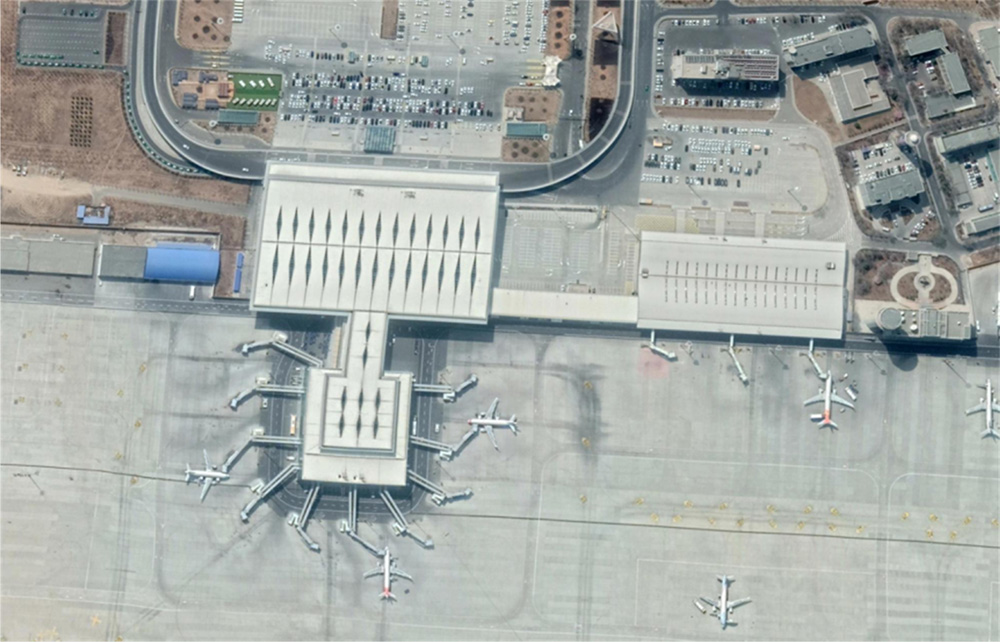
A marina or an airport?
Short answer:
airport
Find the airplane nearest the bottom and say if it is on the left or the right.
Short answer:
right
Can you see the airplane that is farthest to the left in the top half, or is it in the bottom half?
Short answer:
bottom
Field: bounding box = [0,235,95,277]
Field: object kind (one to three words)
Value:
hangar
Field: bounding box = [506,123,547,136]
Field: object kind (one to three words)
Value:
building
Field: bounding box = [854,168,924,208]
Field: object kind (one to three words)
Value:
building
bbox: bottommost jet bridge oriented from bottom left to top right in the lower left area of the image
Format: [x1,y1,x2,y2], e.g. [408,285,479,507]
[238,461,300,523]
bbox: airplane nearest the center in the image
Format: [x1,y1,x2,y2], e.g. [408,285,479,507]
[468,398,521,448]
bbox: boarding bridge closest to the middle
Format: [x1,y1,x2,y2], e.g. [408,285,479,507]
[411,374,479,404]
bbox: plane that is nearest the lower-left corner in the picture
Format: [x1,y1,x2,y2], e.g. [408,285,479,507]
[184,448,230,498]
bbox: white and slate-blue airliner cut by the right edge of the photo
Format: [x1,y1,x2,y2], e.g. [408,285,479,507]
[965,380,1000,437]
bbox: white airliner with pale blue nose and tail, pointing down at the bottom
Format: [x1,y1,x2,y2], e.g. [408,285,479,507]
[699,575,750,630]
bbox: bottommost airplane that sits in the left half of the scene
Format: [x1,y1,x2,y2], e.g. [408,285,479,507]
[362,547,412,600]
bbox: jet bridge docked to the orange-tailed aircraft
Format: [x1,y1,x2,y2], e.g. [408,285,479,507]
[807,338,827,381]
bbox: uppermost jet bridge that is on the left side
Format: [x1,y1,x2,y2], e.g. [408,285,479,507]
[241,331,326,368]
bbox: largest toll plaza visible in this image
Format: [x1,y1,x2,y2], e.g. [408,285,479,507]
[542,55,562,86]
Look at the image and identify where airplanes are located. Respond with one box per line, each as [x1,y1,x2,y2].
[468,398,521,448]
[699,575,750,630]
[184,448,230,498]
[804,371,854,428]
[362,547,412,600]
[965,380,1000,437]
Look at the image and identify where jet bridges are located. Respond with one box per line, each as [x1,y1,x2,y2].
[286,484,322,551]
[648,329,677,360]
[727,333,748,384]
[229,375,305,408]
[241,331,326,368]
[238,461,300,523]
[406,468,474,506]
[338,486,385,557]
[411,374,479,404]
[378,487,435,547]
[807,338,827,381]
[221,426,302,474]
[408,423,479,462]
